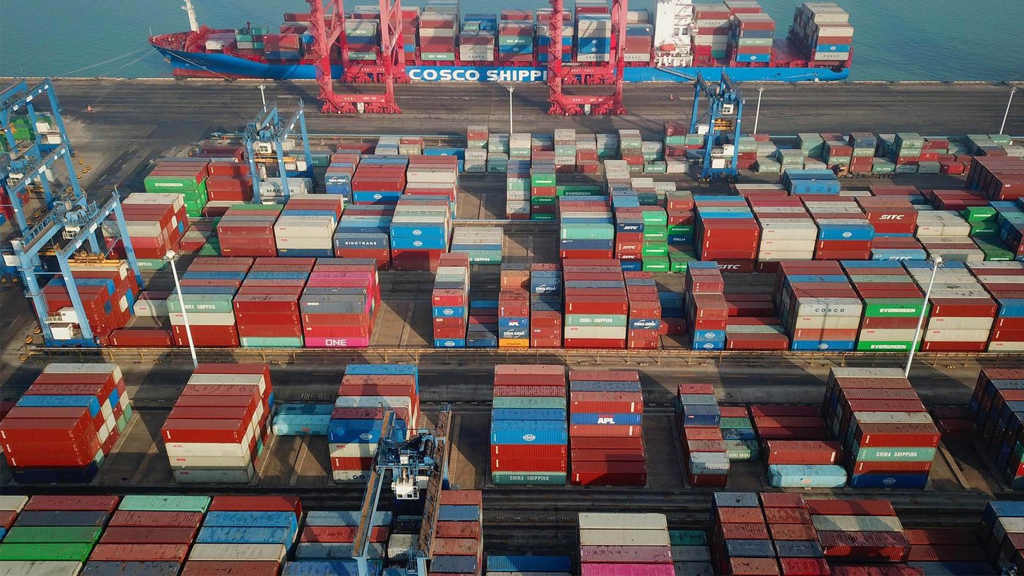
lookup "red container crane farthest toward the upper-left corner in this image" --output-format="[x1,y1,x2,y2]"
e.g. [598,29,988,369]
[302,0,415,114]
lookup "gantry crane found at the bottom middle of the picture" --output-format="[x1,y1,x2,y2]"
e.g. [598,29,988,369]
[349,396,459,576]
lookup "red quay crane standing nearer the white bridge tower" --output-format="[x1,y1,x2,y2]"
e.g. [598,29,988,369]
[541,0,630,114]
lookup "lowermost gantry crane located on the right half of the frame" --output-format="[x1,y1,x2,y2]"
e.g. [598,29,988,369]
[692,65,750,178]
